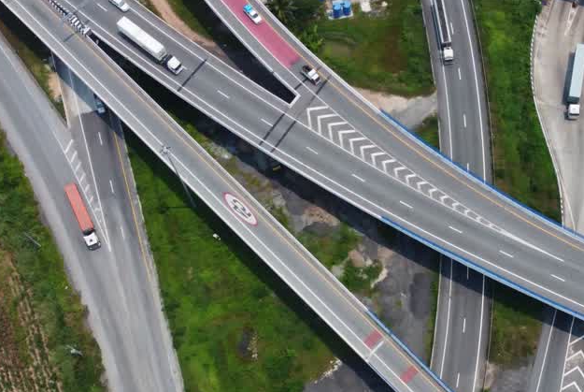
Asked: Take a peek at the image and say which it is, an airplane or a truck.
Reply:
truck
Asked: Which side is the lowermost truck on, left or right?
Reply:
left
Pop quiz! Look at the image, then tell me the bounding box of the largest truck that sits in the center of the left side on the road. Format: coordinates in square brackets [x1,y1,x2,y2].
[61,178,104,254]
